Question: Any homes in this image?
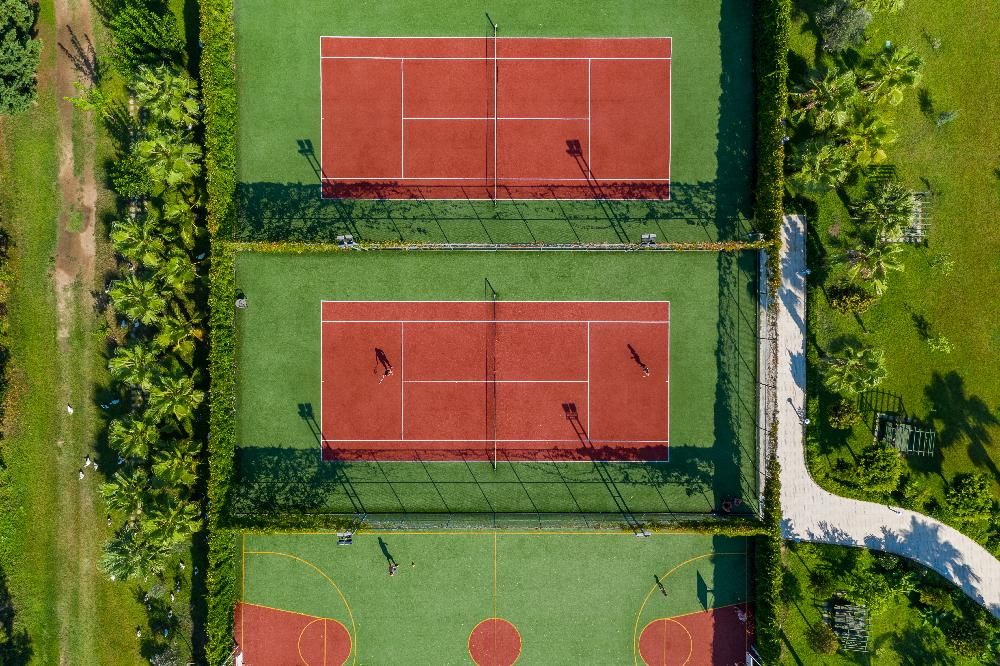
No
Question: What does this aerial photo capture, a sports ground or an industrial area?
sports ground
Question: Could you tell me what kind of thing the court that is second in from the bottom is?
tennis court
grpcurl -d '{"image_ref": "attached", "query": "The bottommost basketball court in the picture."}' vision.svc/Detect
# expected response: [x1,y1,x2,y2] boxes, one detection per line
[234,514,756,666]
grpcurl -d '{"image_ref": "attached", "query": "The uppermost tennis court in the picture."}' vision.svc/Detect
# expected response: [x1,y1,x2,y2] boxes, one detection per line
[234,0,757,245]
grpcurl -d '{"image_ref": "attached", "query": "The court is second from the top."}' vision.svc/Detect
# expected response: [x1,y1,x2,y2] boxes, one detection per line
[234,250,757,513]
